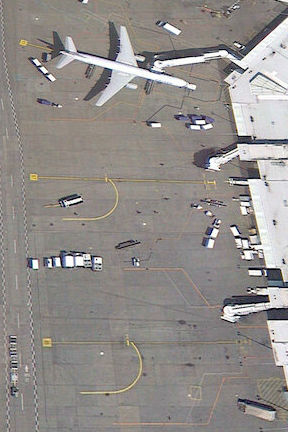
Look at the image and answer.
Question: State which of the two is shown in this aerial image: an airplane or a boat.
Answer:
airplane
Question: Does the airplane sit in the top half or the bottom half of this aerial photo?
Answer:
top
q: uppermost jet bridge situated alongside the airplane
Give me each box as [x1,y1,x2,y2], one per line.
[151,49,247,73]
